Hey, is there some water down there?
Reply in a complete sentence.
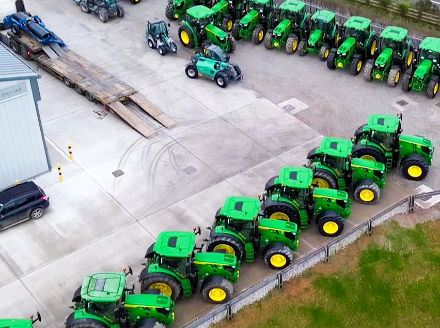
No, water can't be seen anywhere here.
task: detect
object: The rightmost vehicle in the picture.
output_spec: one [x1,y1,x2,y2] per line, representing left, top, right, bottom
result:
[403,38,440,100]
